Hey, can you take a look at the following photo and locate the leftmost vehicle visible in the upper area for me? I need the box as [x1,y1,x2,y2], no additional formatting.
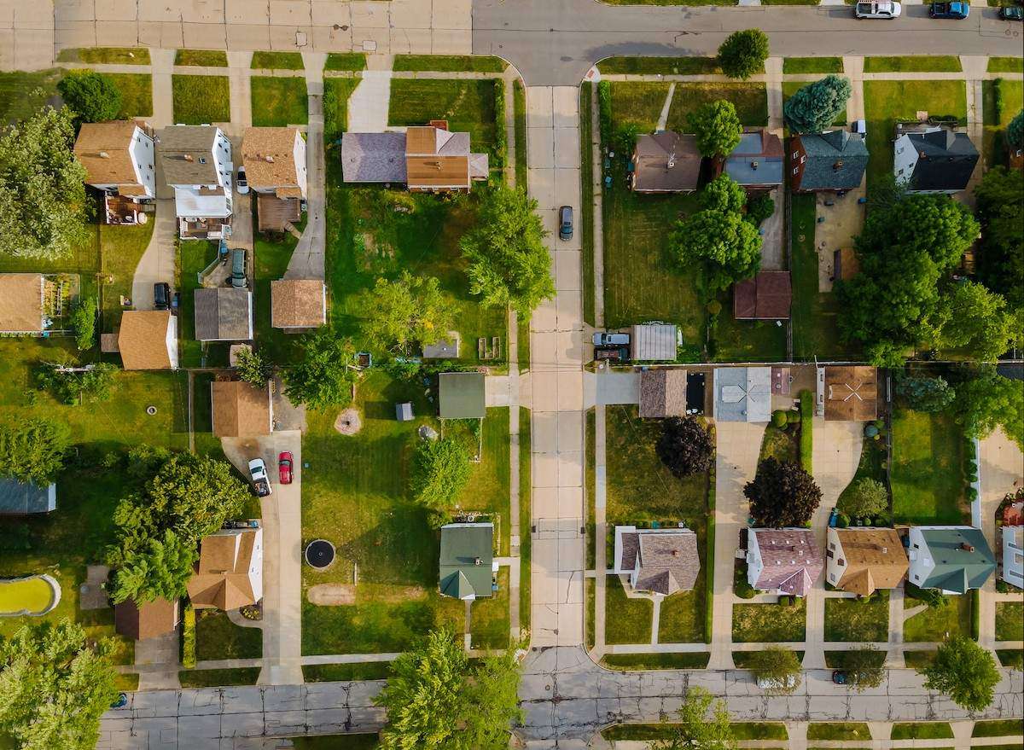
[153,282,171,311]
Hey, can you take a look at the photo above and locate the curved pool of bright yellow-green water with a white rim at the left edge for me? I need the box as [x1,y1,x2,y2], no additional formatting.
[0,573,62,616]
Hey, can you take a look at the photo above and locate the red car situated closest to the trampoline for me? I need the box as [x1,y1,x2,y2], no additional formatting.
[277,451,293,485]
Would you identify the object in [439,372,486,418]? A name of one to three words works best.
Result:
building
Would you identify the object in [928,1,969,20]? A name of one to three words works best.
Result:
vehicle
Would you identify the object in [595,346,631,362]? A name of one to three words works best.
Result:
vehicle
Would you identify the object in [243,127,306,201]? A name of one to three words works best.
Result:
house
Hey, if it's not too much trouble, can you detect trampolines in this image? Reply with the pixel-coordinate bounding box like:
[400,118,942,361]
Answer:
[306,540,335,568]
